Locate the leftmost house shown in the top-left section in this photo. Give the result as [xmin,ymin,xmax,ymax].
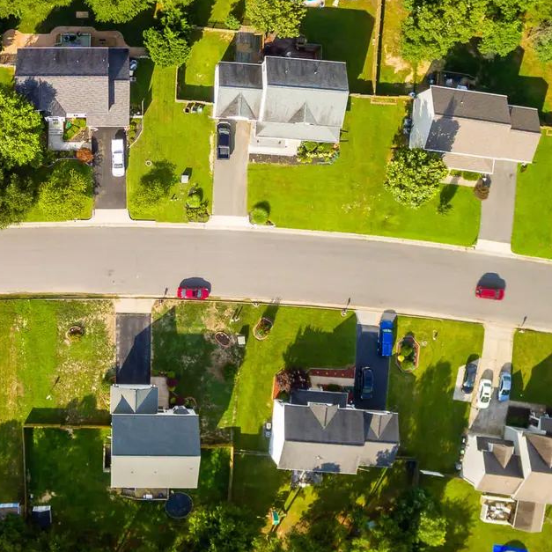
[14,48,130,135]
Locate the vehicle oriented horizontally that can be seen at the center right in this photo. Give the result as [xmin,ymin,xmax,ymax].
[476,286,508,301]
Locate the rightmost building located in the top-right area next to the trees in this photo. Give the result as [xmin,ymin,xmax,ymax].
[410,86,541,175]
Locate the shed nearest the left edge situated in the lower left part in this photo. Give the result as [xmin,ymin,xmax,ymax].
[0,497,22,519]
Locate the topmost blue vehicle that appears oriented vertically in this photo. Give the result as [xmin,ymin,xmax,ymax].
[379,319,397,357]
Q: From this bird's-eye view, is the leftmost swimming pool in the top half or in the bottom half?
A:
bottom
